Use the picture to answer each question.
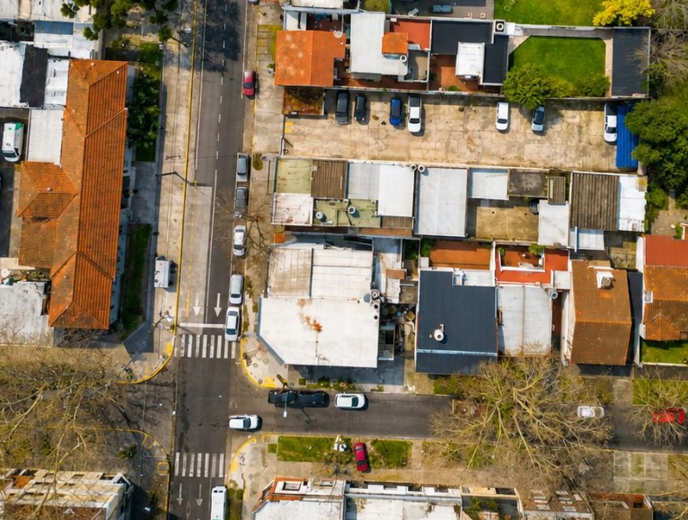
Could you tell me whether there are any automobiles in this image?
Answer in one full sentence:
Yes, the frame does contain an automobile.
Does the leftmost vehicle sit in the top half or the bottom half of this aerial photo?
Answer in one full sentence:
It is in the top half that the leftmost vehicle appears.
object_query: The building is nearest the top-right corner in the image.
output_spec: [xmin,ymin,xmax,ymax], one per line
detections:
[608,27,649,97]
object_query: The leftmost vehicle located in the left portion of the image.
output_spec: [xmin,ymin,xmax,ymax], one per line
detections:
[1,122,22,161]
